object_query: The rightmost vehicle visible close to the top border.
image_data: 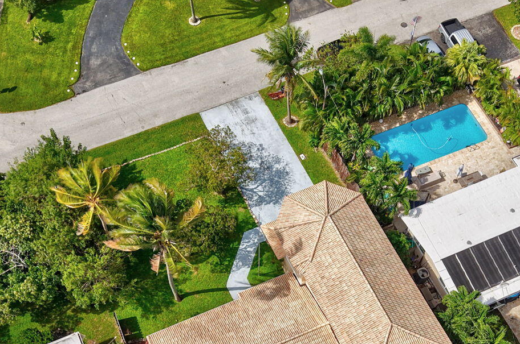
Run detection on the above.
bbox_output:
[439,17,482,54]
